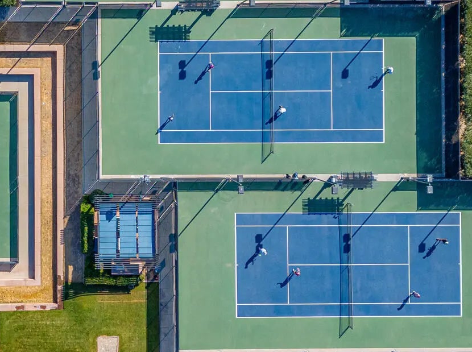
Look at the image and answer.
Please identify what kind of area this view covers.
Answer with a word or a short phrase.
sports ground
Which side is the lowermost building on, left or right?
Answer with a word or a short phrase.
left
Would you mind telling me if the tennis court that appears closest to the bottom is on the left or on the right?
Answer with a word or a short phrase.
right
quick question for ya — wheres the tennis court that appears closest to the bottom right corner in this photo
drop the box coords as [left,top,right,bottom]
[175,179,472,352]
